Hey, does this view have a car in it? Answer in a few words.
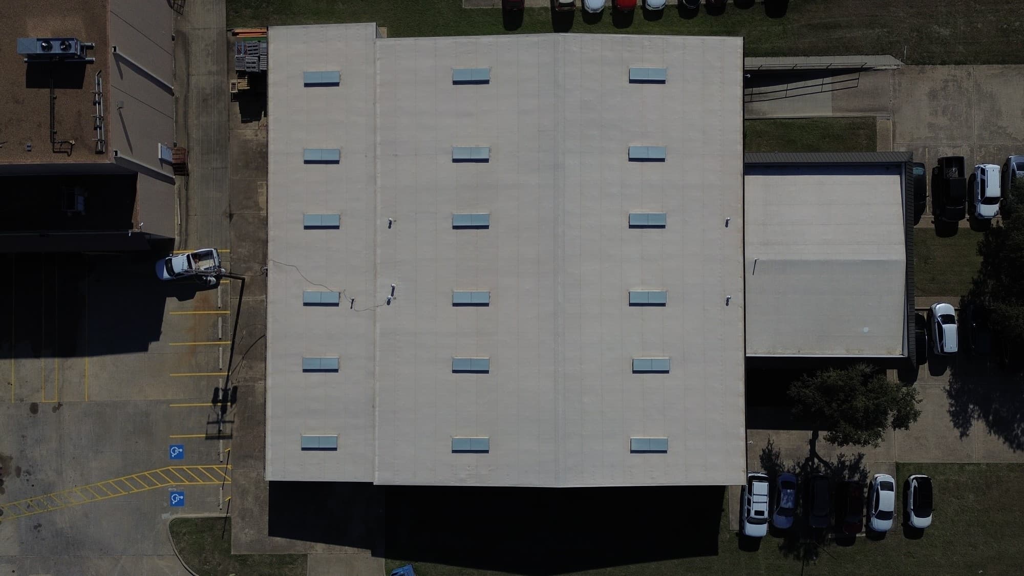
Yes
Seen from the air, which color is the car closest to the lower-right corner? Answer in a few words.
black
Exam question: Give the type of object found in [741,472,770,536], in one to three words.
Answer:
car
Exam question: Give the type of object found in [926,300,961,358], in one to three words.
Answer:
car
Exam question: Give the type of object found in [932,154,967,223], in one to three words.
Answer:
truck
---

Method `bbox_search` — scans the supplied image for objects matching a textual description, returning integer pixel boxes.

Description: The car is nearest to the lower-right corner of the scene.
[903,473,933,528]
